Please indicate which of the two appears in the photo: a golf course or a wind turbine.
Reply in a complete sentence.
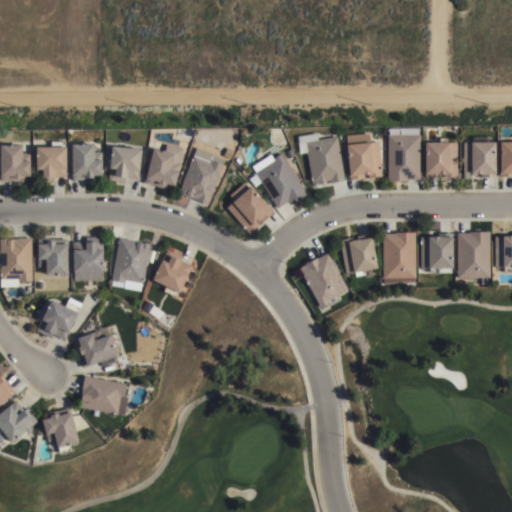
The image shows a golf course.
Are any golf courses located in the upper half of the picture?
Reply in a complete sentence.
No, in the upper half of the picture there is no golf course.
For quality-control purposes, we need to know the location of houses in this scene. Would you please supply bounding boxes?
[37,298,82,340]
[112,238,150,292]
[388,128,422,182]
[72,236,108,281]
[426,142,458,178]
[184,149,227,204]
[146,142,183,186]
[228,183,272,230]
[249,154,306,207]
[300,254,348,312]
[82,376,127,416]
[36,141,67,183]
[40,410,81,454]
[0,238,32,288]
[496,236,512,272]
[464,137,498,177]
[108,147,142,184]
[342,238,379,278]
[348,134,384,182]
[383,236,416,284]
[38,239,69,276]
[72,144,103,180]
[0,144,32,182]
[298,134,344,183]
[154,248,196,297]
[502,142,512,178]
[76,330,119,364]
[458,232,492,284]
[420,236,455,274]
[0,400,35,444]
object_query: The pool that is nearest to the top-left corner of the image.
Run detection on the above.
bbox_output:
[154,132,180,144]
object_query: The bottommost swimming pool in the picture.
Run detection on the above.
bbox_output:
[38,439,53,461]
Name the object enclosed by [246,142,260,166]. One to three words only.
swimming pool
